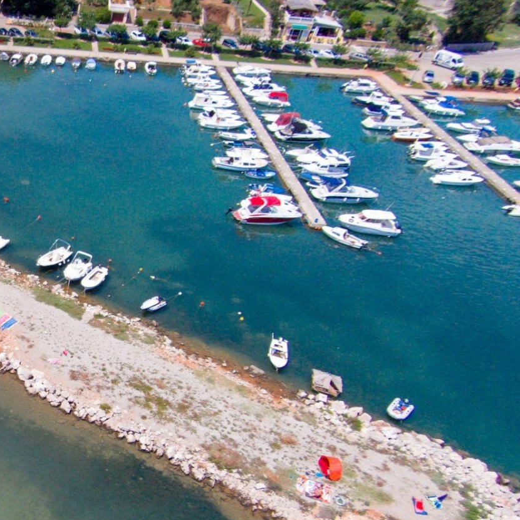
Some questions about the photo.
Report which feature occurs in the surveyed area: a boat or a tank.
boat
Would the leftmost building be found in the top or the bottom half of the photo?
top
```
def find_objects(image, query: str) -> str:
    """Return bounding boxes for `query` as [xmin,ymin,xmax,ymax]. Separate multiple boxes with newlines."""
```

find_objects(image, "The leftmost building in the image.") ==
[111,0,139,28]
